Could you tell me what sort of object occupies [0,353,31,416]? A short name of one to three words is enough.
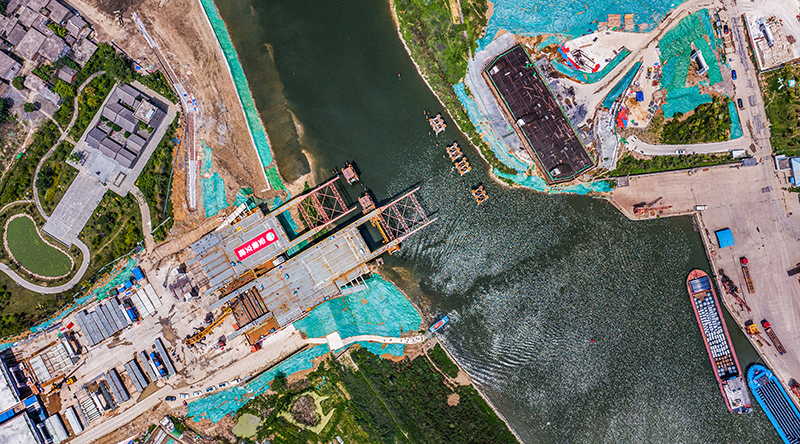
building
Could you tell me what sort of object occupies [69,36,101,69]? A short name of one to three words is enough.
house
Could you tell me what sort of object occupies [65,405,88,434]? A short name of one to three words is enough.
shed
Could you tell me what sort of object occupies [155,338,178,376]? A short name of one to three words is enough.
shed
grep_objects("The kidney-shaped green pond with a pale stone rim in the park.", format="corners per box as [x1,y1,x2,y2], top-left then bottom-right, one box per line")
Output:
[5,213,73,278]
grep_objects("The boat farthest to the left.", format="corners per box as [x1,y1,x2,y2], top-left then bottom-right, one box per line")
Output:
[430,317,449,333]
